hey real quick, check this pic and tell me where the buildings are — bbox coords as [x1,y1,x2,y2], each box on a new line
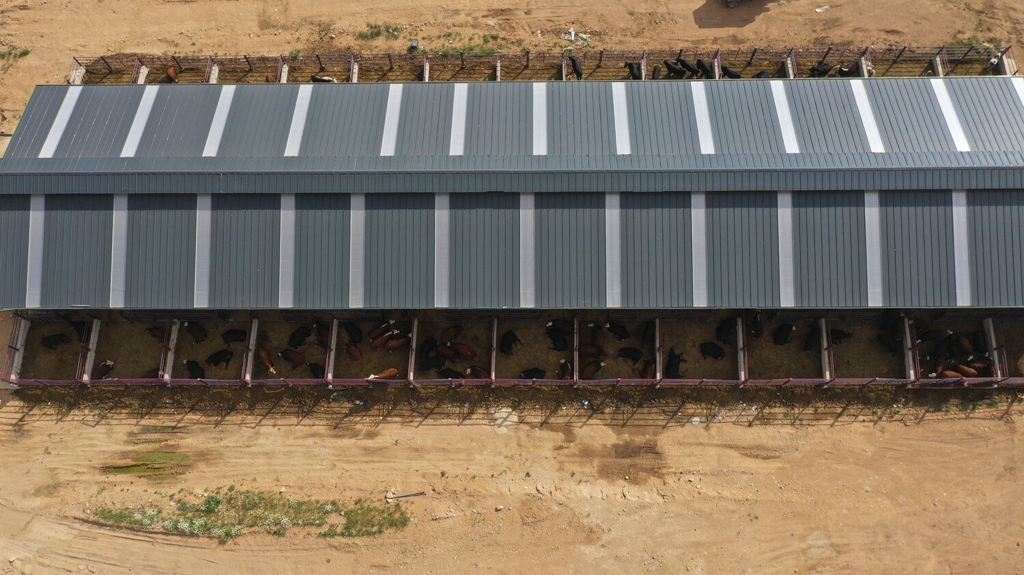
[0,74,1024,320]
